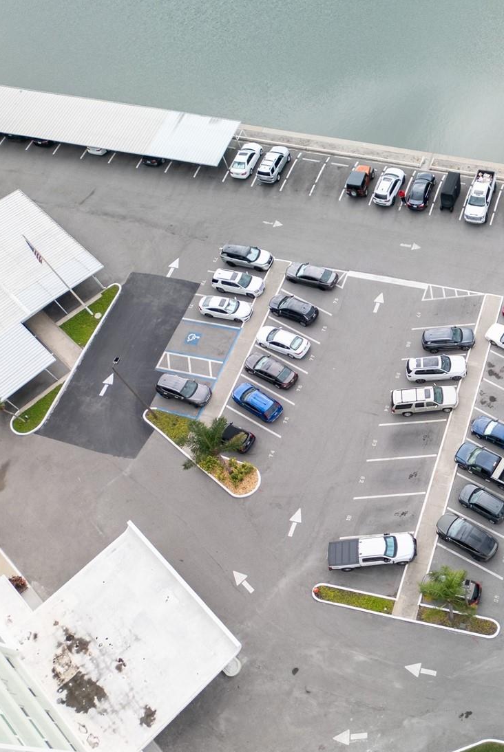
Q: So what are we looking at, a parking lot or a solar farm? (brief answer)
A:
parking lot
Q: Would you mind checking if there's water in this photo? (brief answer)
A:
Yes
